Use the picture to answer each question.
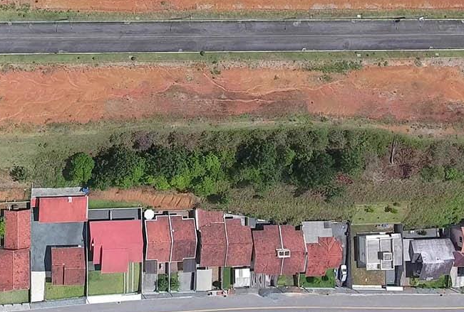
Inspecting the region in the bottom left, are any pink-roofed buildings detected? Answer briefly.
Yes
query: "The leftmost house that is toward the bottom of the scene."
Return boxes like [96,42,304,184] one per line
[0,210,30,292]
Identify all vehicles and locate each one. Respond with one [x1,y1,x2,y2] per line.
[341,264,348,282]
[334,268,340,281]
